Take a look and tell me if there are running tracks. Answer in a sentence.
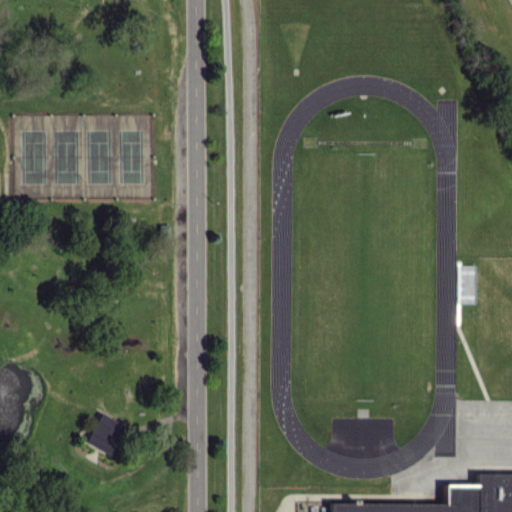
Yes, this view includes a running track.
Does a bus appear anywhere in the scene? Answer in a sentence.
No, the scene contains no bus.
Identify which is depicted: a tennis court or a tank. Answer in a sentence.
This aerial view contains a tennis court.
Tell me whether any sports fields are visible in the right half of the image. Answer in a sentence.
Yes, you'll find a sports field in the right half of the image.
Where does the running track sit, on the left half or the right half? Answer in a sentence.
The running track sits on the right side.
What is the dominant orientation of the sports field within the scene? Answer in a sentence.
The sports field has been laid out from top to bottom relative to the frame.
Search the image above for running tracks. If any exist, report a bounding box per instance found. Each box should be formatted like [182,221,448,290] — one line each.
[270,76,458,479]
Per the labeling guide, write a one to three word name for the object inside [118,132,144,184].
tennis court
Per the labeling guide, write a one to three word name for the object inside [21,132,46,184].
tennis court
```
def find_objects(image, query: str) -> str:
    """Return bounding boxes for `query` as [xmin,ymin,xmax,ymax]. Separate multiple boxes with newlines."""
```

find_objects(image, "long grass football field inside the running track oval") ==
[310,154,418,402]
